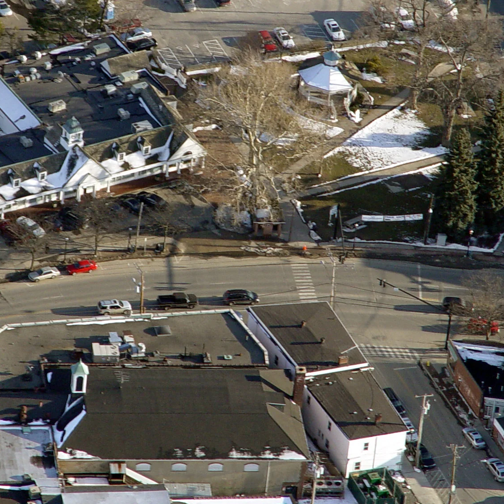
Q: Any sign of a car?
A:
Yes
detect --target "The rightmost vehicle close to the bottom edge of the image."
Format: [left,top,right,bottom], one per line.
[486,458,504,483]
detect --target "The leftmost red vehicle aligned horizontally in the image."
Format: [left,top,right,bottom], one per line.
[64,260,100,277]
